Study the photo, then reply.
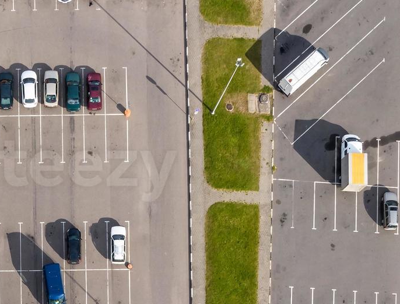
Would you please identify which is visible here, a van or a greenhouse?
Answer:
van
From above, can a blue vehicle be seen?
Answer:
Yes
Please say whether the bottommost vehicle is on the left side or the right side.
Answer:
left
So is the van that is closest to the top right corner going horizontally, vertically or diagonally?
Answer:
diagonally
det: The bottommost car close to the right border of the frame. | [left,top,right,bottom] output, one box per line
[381,192,400,230]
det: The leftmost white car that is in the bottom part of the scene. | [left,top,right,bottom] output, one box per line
[109,227,127,264]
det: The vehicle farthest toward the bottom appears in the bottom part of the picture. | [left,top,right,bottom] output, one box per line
[44,263,68,304]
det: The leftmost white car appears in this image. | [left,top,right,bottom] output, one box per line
[20,72,38,108]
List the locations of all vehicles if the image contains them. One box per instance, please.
[279,49,327,95]
[42,72,60,108]
[381,192,400,230]
[44,263,68,304]
[20,72,38,108]
[109,227,127,264]
[86,74,104,111]
[65,73,83,112]
[65,228,84,265]
[0,73,15,110]
[339,141,366,198]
